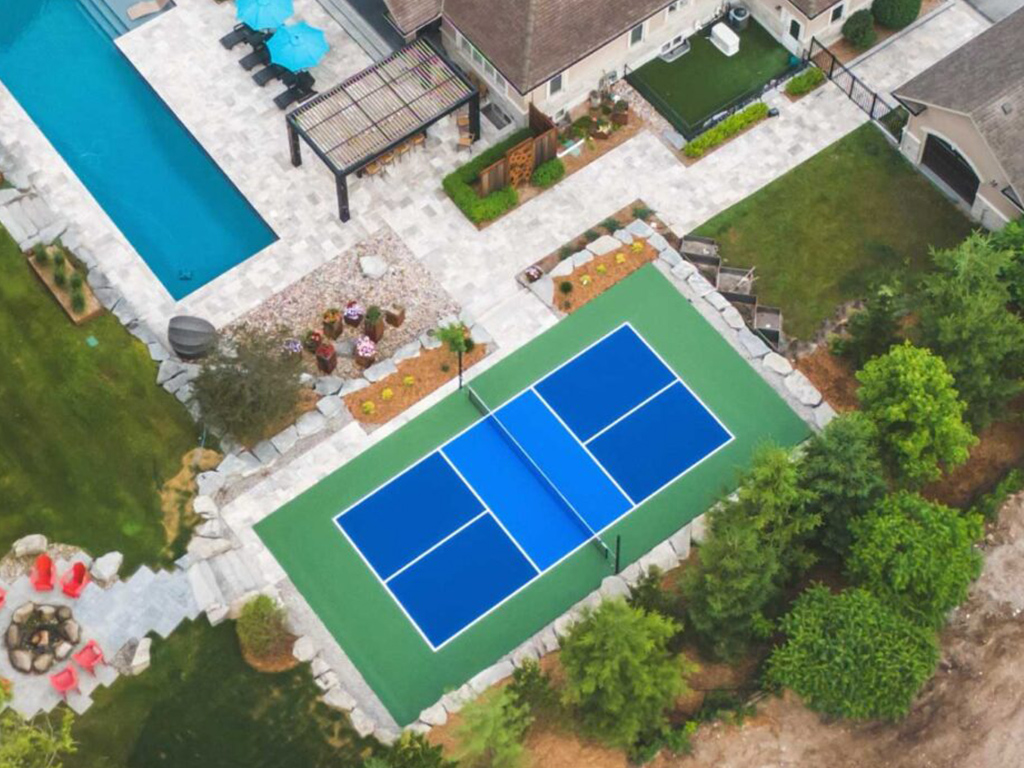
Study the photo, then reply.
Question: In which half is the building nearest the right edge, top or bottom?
top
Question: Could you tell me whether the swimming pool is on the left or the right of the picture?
left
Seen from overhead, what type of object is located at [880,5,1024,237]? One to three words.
building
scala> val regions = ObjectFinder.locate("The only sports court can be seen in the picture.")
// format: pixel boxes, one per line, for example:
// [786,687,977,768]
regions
[254,264,810,727]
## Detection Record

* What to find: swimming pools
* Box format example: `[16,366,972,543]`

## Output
[0,0,289,309]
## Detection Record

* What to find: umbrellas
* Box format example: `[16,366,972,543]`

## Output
[261,19,328,80]
[228,0,294,49]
